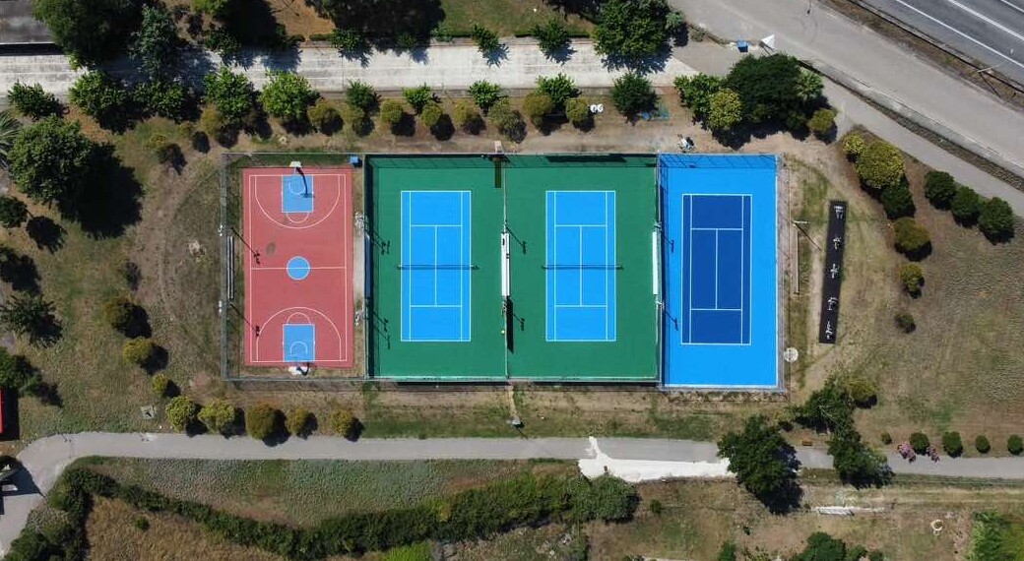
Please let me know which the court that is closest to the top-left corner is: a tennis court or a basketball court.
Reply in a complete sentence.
I'd identify the court that is closest to the top-left corner as a basketball court.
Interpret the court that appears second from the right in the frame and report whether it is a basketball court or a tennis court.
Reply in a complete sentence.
Specifically, the court that appears second from the right is a tennis court.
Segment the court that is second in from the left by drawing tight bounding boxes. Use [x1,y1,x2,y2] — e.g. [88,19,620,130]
[368,158,505,378]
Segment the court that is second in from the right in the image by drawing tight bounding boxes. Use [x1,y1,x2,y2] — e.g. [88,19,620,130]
[507,158,657,378]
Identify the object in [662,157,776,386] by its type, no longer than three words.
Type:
tennis court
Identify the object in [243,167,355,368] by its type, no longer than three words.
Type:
basketball court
